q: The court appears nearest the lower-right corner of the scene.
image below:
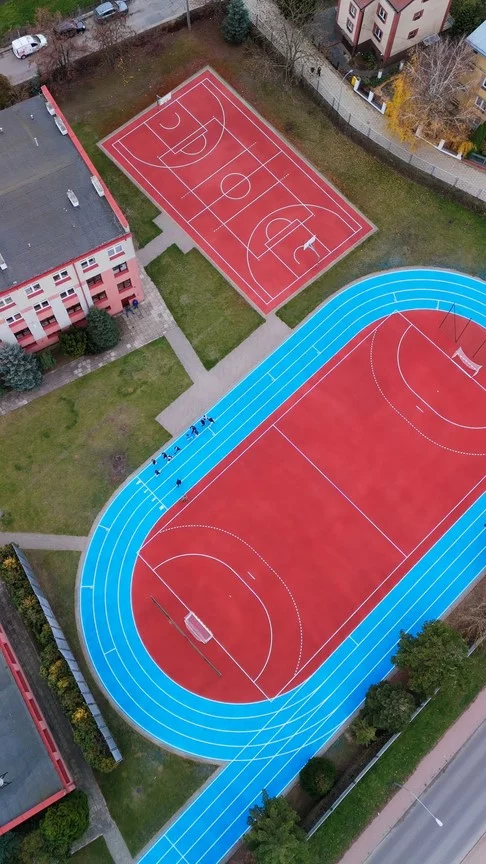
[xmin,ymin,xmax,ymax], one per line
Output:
[130,310,486,705]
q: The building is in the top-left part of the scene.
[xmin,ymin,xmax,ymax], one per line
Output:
[0,82,144,359]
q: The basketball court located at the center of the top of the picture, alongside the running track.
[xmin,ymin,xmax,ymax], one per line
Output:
[97,67,379,320]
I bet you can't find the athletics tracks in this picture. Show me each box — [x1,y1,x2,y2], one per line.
[73,264,486,864]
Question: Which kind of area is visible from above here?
sports ground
